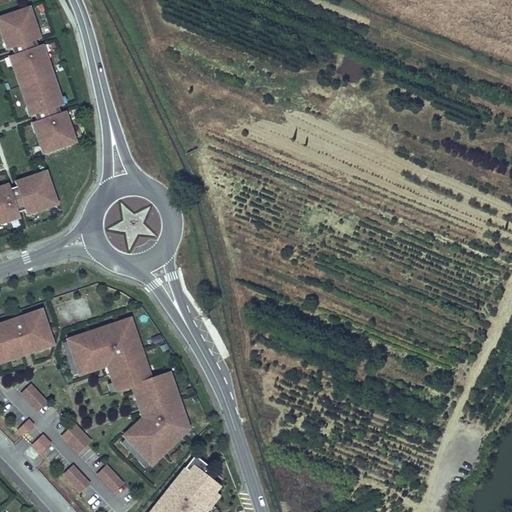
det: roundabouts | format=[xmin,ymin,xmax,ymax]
[83,175,182,274]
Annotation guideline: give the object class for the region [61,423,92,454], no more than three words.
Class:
building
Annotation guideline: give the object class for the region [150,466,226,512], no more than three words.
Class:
house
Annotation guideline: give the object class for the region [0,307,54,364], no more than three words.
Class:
house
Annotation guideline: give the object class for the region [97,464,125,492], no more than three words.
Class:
building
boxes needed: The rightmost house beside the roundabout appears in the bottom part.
[66,315,191,468]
